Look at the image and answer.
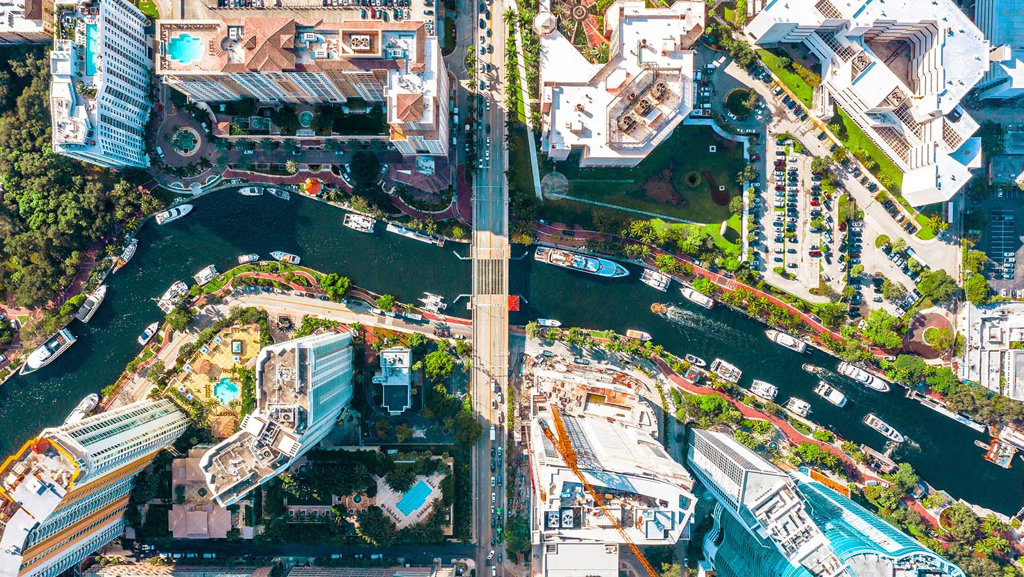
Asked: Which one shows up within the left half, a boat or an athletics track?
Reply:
boat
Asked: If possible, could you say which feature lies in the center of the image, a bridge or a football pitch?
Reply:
bridge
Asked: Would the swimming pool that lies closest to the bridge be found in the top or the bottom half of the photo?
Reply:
bottom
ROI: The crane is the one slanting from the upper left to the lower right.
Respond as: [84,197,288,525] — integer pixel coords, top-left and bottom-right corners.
[540,400,660,577]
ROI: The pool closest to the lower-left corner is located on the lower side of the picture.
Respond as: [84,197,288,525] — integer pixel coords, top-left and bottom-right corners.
[213,376,239,405]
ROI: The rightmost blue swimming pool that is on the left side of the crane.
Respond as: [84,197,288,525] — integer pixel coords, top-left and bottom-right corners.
[395,479,434,516]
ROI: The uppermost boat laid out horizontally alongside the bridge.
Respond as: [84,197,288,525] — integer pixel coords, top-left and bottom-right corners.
[531,247,630,273]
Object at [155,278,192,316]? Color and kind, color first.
white boat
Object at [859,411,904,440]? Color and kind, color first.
white boat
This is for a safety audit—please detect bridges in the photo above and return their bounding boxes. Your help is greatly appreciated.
[470,166,511,443]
